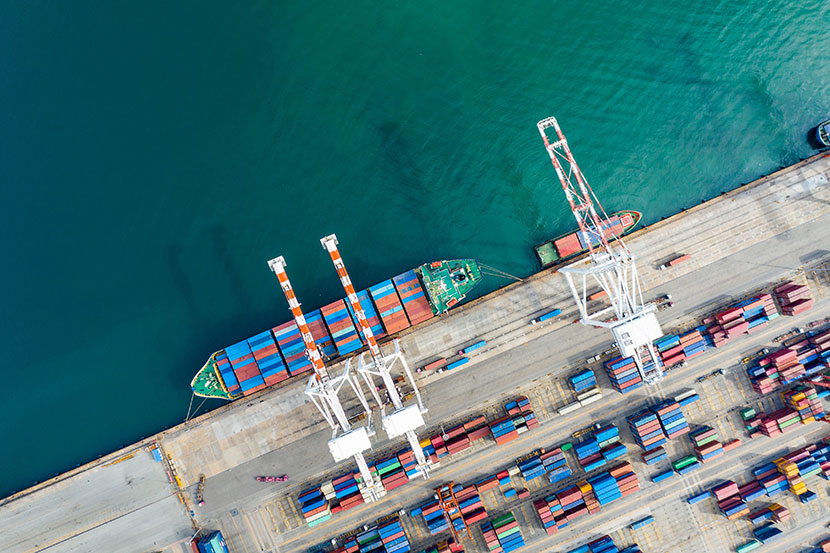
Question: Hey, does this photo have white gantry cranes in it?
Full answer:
Yes, I can see a white gantry crane in this picture.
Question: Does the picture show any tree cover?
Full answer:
No, the picture contains no tree cover.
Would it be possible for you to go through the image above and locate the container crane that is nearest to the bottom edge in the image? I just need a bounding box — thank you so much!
[434,484,473,547]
